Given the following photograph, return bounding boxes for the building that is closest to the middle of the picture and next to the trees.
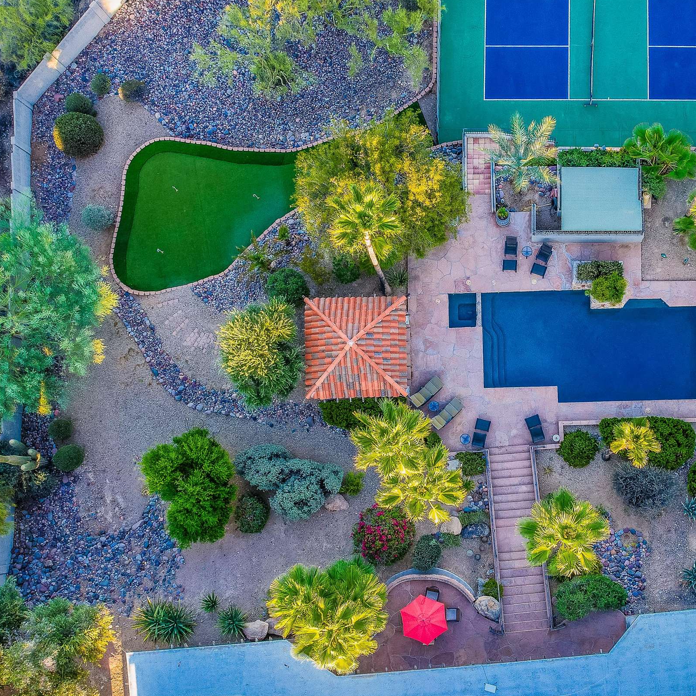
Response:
[301,294,413,404]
